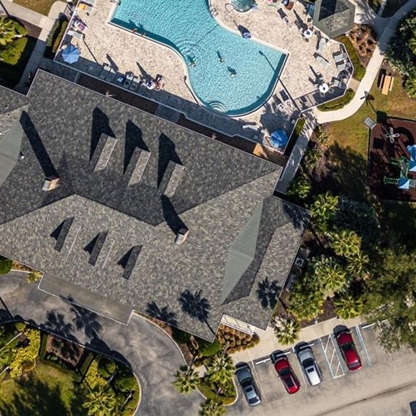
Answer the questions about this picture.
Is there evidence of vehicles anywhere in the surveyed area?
Yes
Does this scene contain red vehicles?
Yes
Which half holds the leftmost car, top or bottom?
bottom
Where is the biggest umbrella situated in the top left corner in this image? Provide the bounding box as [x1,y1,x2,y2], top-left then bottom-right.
[62,43,82,64]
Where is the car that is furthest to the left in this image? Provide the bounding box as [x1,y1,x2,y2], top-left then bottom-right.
[237,362,261,405]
